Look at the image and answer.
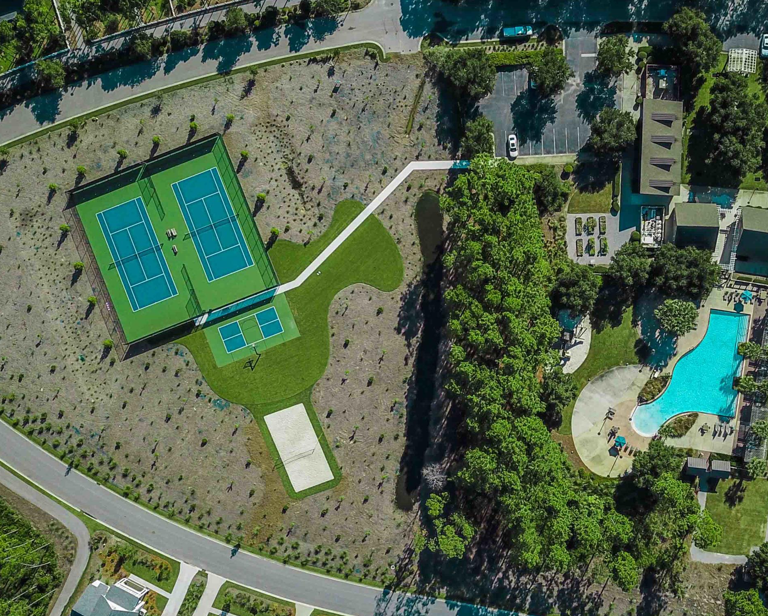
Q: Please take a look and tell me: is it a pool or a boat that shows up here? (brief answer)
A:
pool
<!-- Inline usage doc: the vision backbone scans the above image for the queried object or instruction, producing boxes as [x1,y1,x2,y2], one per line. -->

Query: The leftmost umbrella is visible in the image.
[613,435,627,448]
